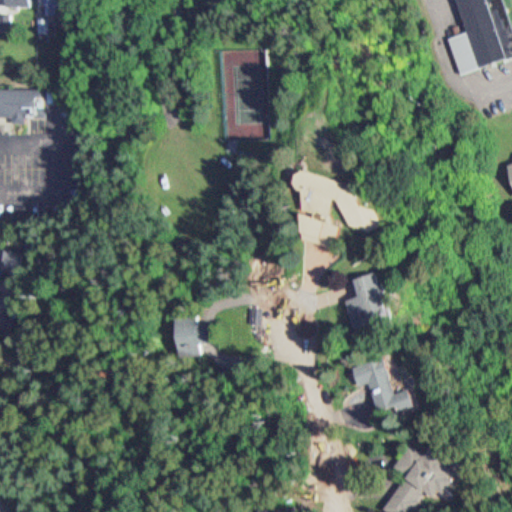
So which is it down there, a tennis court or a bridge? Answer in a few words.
tennis court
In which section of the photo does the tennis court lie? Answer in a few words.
top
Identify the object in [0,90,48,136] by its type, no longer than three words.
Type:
house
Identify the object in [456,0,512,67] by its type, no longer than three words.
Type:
building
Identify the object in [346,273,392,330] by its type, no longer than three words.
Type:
house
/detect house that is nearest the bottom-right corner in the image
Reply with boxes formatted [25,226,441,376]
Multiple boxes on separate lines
[383,446,454,512]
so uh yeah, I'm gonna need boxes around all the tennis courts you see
[222,50,270,138]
